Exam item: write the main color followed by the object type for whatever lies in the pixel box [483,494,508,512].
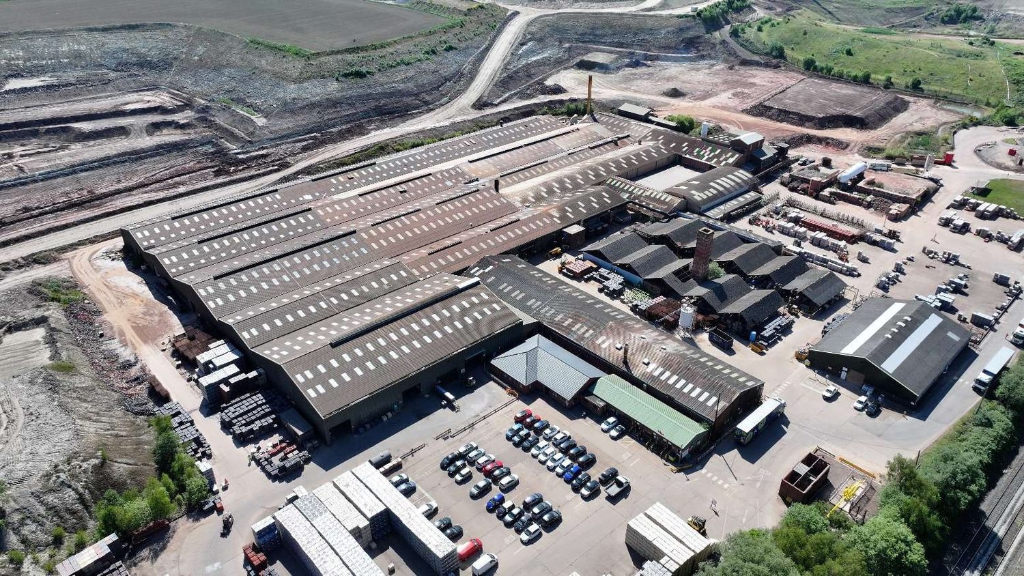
blue car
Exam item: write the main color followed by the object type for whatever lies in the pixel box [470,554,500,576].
white vehicle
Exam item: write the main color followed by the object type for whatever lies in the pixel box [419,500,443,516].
white vehicle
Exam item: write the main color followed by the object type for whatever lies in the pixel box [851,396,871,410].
white car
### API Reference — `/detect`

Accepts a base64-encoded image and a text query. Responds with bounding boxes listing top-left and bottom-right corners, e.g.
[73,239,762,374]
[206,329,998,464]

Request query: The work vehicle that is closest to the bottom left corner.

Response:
[218,507,240,533]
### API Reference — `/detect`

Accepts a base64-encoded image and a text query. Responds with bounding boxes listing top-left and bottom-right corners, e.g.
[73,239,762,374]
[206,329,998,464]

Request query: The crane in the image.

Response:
[827,471,873,515]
